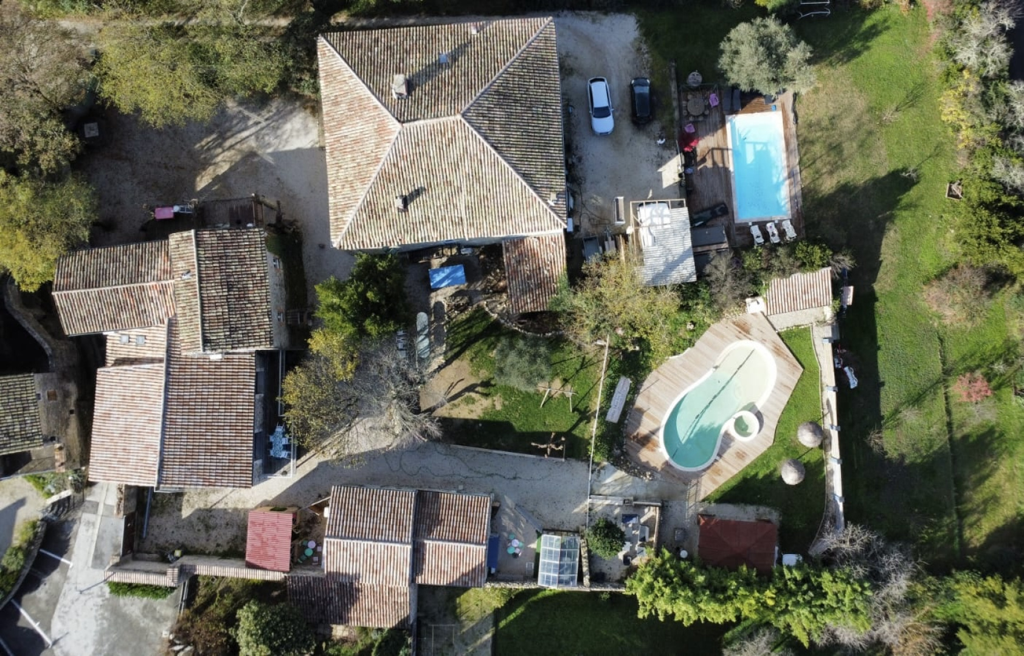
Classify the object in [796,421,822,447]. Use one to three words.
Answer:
umbrella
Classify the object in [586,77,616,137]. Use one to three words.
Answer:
car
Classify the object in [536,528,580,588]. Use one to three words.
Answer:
greenhouse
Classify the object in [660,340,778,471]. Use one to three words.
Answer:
swimming pool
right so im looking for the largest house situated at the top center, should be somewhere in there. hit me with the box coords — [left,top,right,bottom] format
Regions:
[315,15,567,260]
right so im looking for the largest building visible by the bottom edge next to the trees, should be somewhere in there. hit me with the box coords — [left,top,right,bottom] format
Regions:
[287,480,500,629]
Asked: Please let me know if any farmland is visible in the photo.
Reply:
No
